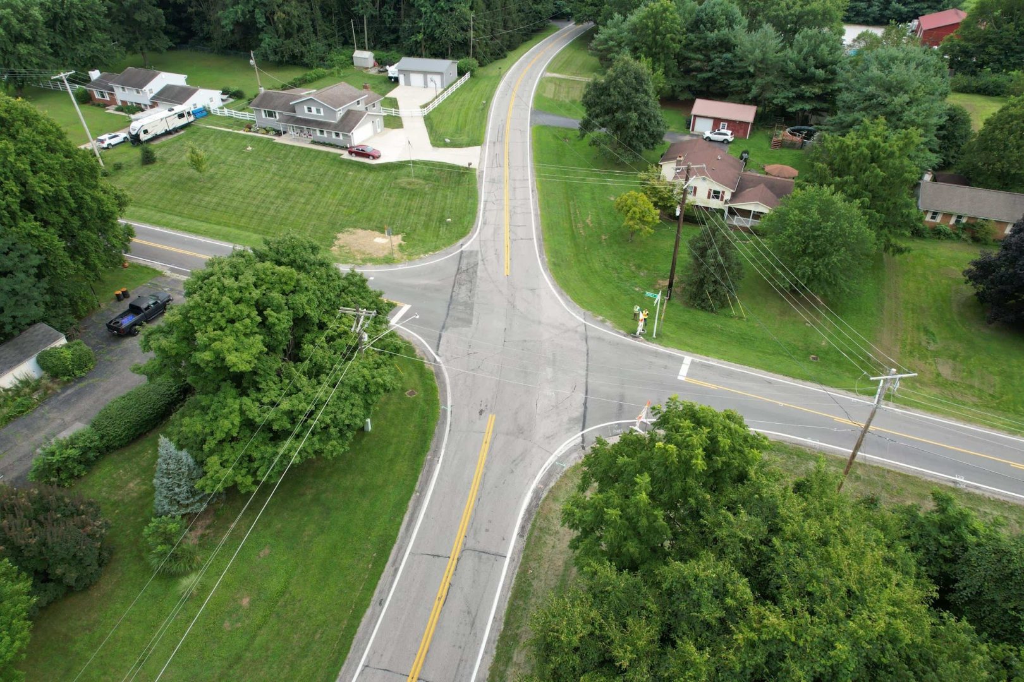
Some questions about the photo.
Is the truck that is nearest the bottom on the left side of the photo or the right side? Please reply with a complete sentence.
It is on the left.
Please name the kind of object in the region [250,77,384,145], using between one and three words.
house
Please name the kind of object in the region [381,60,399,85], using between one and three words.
vehicle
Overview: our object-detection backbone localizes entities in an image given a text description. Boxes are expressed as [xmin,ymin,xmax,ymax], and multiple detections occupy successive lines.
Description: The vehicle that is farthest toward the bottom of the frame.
[100,291,171,331]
